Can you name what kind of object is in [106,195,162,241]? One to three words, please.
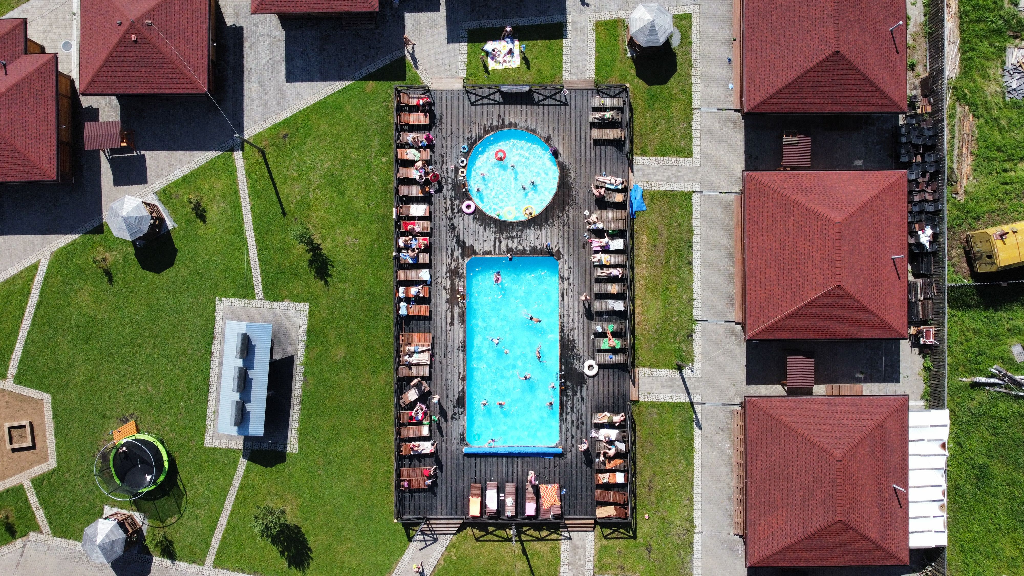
gazebo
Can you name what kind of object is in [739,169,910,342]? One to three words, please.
house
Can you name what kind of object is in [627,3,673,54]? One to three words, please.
gazebo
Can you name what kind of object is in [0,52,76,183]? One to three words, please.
house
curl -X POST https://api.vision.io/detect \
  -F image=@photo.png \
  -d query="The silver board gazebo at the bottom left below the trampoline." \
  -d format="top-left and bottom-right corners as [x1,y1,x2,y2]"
[81,513,138,564]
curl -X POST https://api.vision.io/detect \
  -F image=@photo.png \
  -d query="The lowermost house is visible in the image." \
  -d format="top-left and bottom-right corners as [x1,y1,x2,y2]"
[741,394,911,568]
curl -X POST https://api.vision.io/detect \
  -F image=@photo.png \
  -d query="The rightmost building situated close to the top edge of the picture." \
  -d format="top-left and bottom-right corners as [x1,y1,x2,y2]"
[738,0,909,115]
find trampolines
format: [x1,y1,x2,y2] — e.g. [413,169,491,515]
[94,434,171,500]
